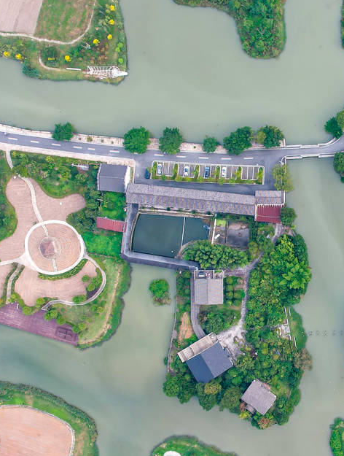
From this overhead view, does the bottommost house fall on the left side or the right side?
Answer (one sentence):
The bottommost house sits on the right side.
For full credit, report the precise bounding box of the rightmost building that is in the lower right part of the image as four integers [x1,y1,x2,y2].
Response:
[239,377,278,415]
